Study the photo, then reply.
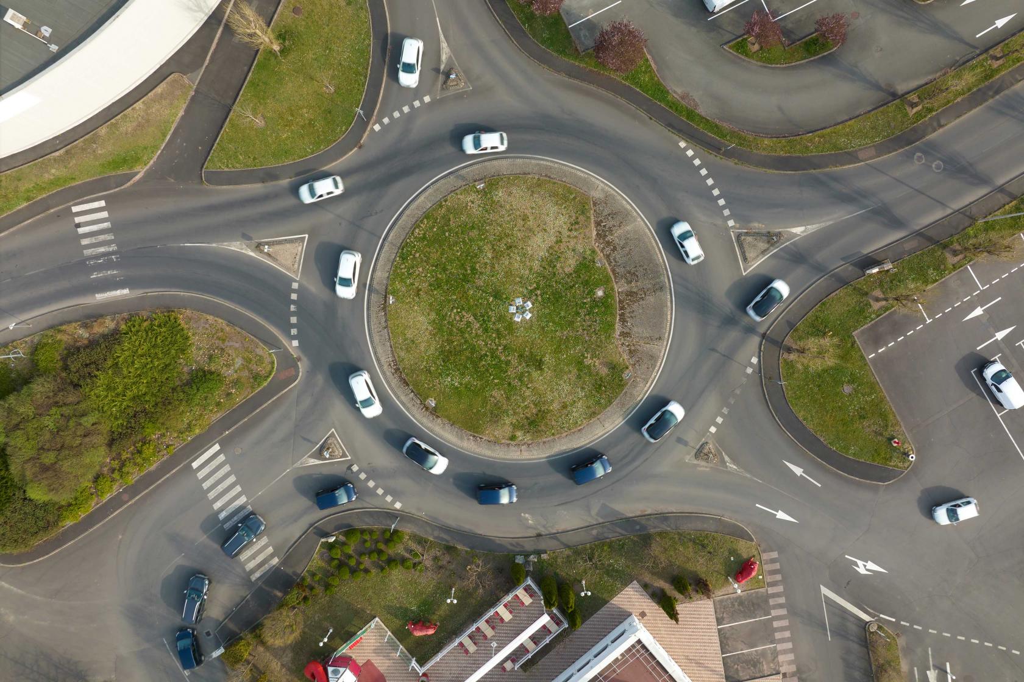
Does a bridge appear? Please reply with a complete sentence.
No, no bridge is visible in the scene.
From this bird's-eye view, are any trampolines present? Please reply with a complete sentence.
No, this view has no trampoline in it.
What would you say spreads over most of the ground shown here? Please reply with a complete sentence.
The scene is dominated by paved ground.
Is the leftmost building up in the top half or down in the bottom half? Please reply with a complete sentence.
It is in the top half that the leftmost building appears.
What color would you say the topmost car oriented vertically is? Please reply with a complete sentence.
The topmost car oriented vertically looks white in the image.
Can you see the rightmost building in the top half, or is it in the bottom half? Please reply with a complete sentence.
The rightmost building sits in the bottom half of the picture.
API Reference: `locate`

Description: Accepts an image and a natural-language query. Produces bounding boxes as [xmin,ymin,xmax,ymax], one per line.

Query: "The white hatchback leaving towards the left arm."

[298,174,347,205]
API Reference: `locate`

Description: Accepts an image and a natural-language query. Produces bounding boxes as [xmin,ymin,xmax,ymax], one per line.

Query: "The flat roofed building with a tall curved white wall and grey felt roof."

[0,0,219,157]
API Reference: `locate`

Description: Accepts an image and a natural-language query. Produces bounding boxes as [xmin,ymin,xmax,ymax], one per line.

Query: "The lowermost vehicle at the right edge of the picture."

[927,495,981,526]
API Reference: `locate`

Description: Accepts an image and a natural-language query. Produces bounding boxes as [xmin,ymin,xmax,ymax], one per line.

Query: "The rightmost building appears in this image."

[554,616,689,682]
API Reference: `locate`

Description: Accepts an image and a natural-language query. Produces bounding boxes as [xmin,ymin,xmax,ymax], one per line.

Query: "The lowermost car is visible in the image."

[174,626,207,673]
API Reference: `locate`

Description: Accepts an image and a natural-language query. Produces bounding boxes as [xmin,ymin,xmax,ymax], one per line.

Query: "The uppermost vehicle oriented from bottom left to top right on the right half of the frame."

[744,280,788,322]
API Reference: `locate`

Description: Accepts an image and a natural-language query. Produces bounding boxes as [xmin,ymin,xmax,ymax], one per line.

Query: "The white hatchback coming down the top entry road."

[396,38,424,87]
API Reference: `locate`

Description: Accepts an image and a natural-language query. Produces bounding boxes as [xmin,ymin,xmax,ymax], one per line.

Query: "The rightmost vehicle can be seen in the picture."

[980,364,1024,413]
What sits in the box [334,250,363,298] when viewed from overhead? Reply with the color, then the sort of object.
white car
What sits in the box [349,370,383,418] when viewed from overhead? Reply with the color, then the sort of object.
white car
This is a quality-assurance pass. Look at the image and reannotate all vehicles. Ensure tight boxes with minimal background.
[569,454,612,486]
[220,513,268,559]
[298,174,347,205]
[396,38,424,87]
[639,402,684,442]
[334,250,363,298]
[403,435,448,474]
[461,130,509,156]
[475,482,518,506]
[349,370,383,418]
[314,480,358,513]
[668,221,708,266]
[744,280,788,322]
[174,626,207,673]
[980,364,1024,413]
[181,570,214,623]
[927,495,981,526]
